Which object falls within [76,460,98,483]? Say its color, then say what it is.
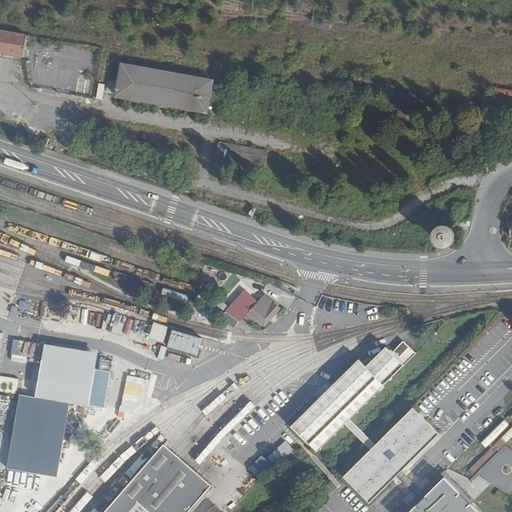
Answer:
white train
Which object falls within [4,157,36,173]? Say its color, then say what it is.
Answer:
white vehicle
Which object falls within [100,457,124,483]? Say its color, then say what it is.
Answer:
white train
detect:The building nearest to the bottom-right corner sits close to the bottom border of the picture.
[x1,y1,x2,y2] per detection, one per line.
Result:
[410,478,480,512]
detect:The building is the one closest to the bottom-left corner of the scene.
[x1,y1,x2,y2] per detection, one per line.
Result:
[5,394,68,478]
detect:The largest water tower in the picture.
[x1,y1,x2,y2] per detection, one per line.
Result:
[430,225,455,250]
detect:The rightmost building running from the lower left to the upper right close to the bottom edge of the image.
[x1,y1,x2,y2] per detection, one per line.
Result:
[342,408,438,504]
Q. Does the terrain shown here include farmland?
No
